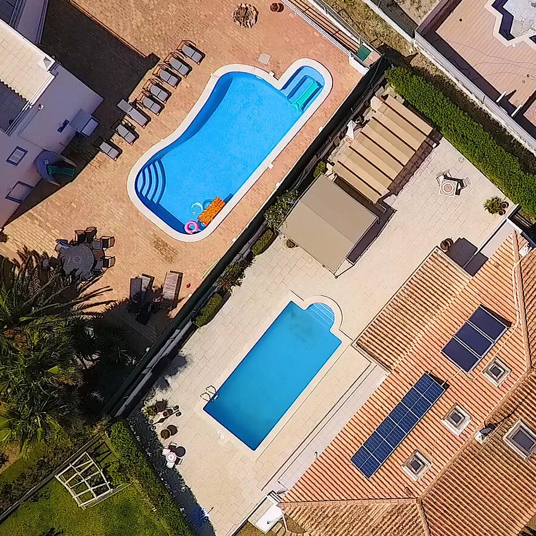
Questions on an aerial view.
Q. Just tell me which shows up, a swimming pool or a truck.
swimming pool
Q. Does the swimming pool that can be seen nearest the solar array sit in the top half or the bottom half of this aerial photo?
bottom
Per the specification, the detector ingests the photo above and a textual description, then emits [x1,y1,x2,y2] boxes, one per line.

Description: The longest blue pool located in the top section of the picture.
[128,58,332,241]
